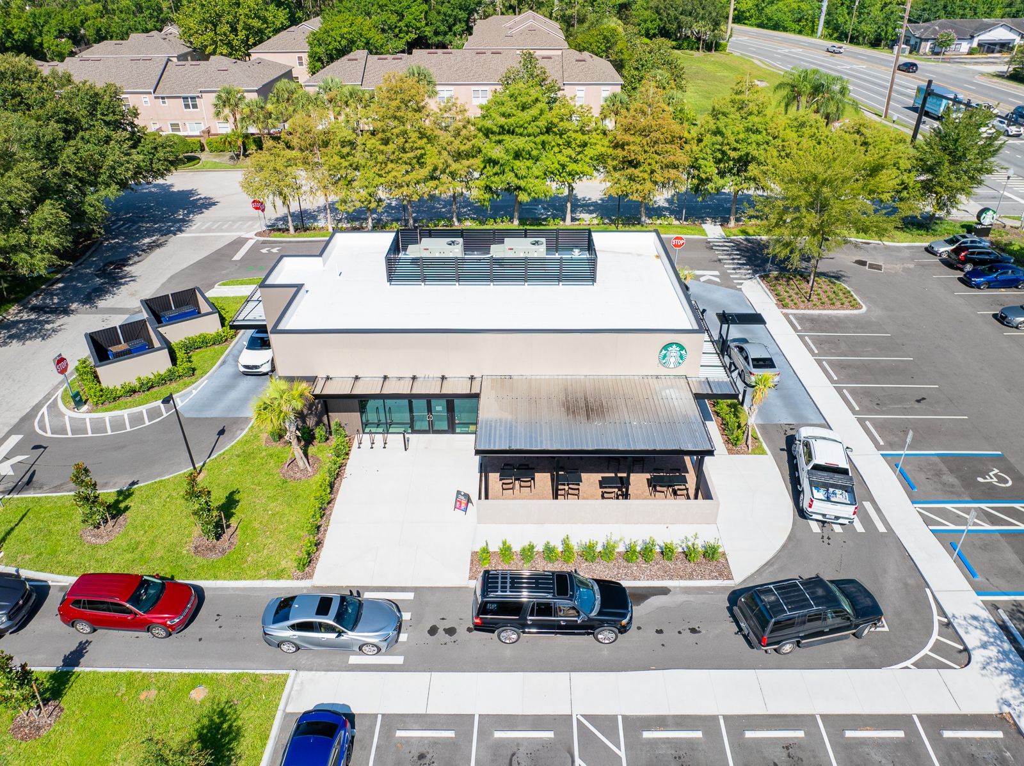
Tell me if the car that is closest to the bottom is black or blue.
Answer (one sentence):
From above, the car that is closest to the bottom appears blue.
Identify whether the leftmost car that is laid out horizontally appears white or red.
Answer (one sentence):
The leftmost car that is laid out horizontally is red.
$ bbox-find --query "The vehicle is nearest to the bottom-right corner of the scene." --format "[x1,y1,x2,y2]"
[729,572,890,654]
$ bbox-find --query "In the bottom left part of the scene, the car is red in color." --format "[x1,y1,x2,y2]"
[53,569,197,639]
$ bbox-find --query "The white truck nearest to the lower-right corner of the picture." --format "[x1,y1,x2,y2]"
[793,426,863,528]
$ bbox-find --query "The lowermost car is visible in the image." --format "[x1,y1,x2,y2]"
[270,708,343,766]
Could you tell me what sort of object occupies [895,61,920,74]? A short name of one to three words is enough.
vehicle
